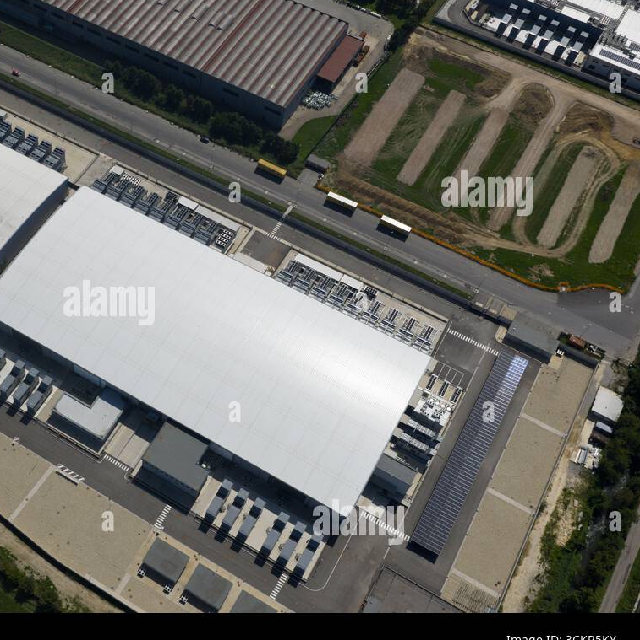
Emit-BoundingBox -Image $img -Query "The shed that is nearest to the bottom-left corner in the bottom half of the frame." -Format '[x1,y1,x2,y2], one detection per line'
[142,538,191,585]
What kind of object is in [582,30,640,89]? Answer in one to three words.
building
